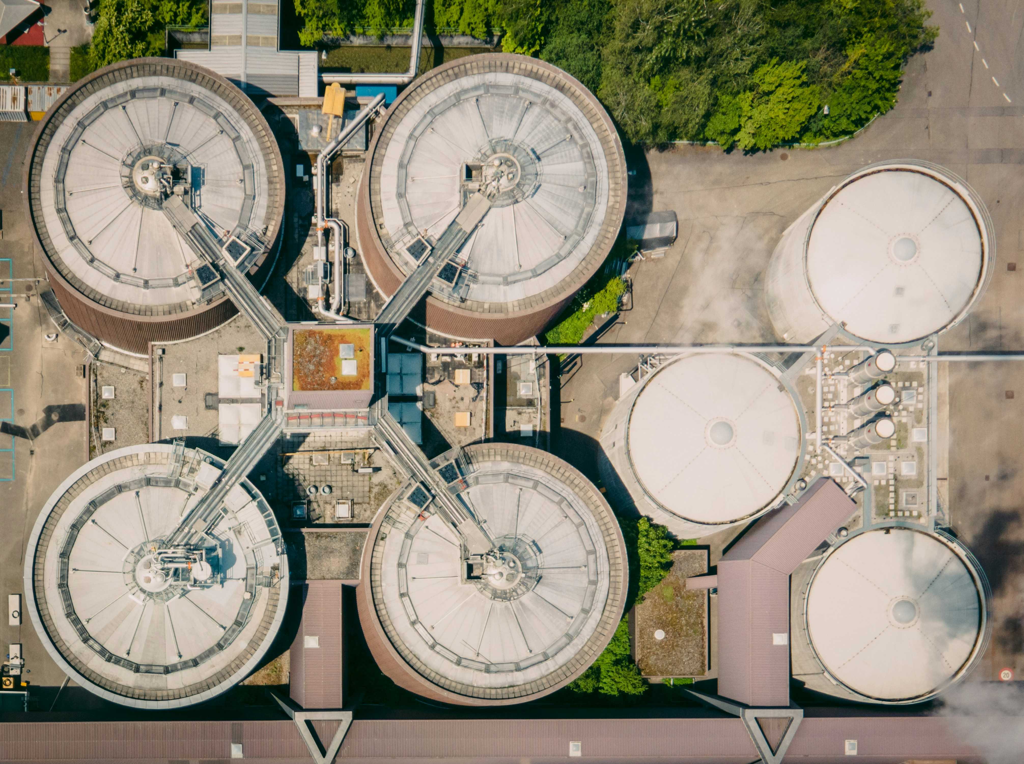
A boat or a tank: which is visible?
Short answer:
tank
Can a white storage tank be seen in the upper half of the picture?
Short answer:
Yes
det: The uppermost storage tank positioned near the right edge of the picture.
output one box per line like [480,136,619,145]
[766,155,999,353]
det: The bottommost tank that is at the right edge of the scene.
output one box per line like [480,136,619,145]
[789,517,998,707]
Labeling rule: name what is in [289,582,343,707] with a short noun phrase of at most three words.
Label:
building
